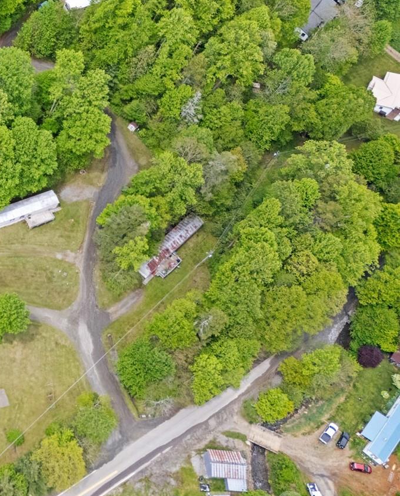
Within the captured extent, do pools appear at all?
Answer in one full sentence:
No, no pool is visible in the view.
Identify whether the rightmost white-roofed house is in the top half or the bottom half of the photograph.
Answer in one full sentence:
Seen from above, the rightmost white-roofed house lies in the top half of the view.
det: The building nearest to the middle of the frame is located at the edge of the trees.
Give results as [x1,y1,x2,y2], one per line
[131,216,205,291]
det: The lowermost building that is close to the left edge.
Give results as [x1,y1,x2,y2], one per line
[0,191,59,232]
